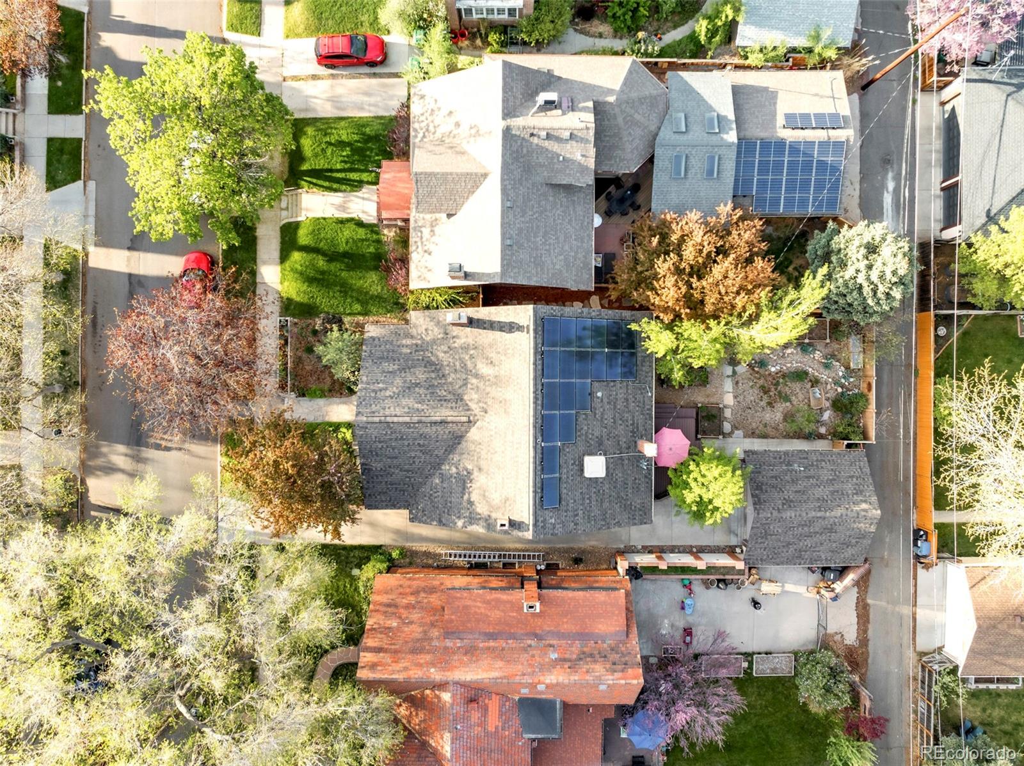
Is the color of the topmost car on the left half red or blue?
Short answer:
red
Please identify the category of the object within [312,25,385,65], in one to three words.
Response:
car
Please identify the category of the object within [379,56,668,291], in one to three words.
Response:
house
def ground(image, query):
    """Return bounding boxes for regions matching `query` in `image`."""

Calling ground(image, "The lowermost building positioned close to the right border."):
[946,562,1024,679]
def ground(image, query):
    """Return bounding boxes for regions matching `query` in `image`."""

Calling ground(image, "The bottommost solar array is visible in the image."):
[541,316,638,509]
